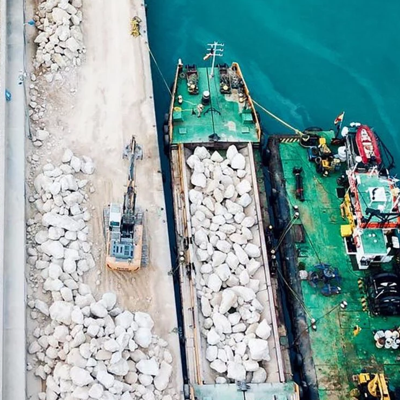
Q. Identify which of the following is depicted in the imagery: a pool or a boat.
boat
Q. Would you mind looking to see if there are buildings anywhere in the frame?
No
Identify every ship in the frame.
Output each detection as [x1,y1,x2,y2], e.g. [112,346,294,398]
[263,119,400,400]
[163,48,305,400]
